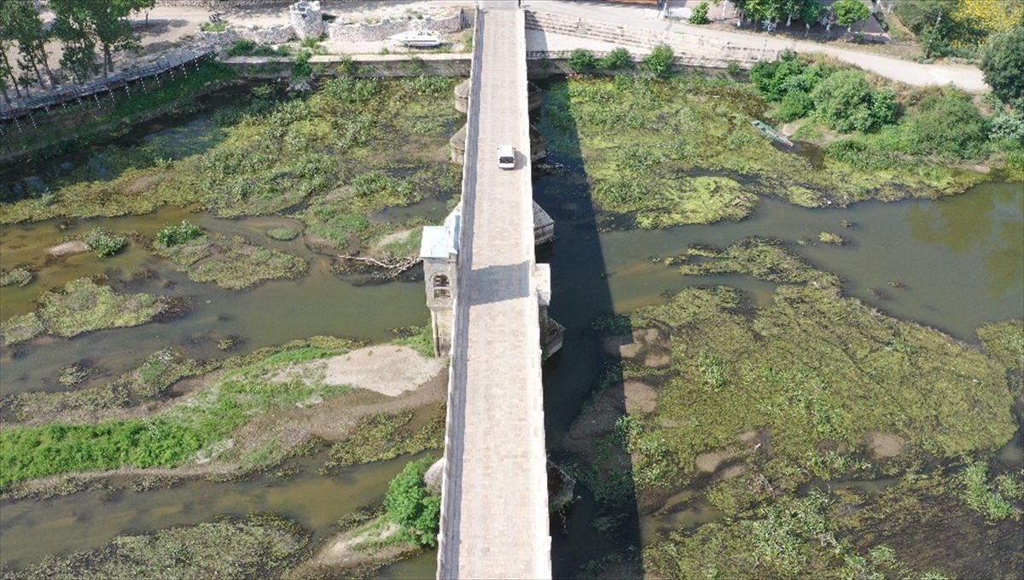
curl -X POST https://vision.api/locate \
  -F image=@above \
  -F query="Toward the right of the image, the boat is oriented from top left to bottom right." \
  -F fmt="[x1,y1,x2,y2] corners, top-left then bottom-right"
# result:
[752,118,794,145]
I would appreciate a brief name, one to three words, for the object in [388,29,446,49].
boat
